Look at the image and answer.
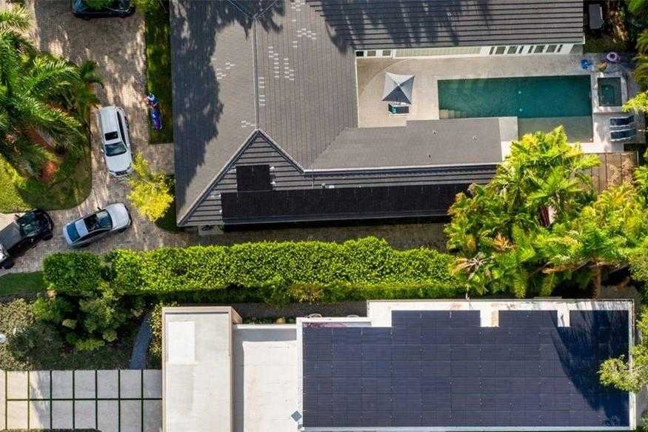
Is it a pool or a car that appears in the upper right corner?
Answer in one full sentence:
There is a pool in the upper right corner.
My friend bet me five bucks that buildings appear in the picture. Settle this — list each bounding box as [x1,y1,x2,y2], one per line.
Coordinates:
[169,0,588,229]
[162,299,635,432]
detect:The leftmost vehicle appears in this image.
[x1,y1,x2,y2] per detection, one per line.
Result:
[0,204,56,264]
